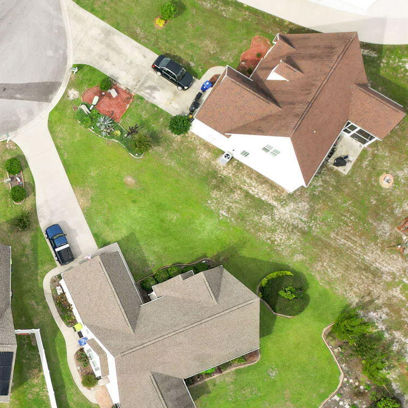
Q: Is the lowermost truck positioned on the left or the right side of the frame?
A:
left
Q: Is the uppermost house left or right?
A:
right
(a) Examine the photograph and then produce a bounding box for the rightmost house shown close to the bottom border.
[58,249,260,408]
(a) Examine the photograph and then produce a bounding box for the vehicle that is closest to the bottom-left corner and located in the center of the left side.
[46,221,79,268]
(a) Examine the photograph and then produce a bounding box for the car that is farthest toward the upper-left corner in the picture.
[152,51,197,89]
